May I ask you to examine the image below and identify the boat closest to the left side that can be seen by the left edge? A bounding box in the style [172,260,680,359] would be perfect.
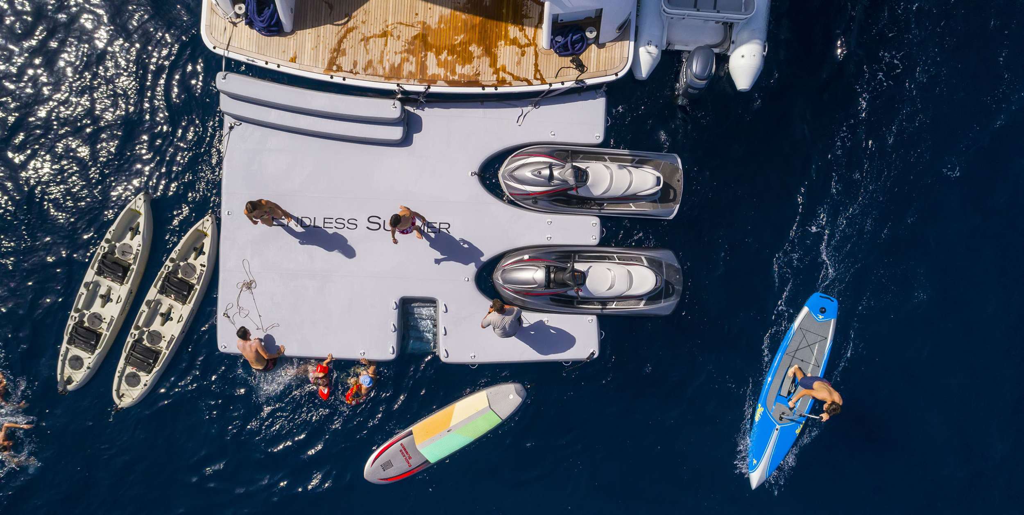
[50,193,158,393]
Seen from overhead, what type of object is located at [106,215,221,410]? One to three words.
boat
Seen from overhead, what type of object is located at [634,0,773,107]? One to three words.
boat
